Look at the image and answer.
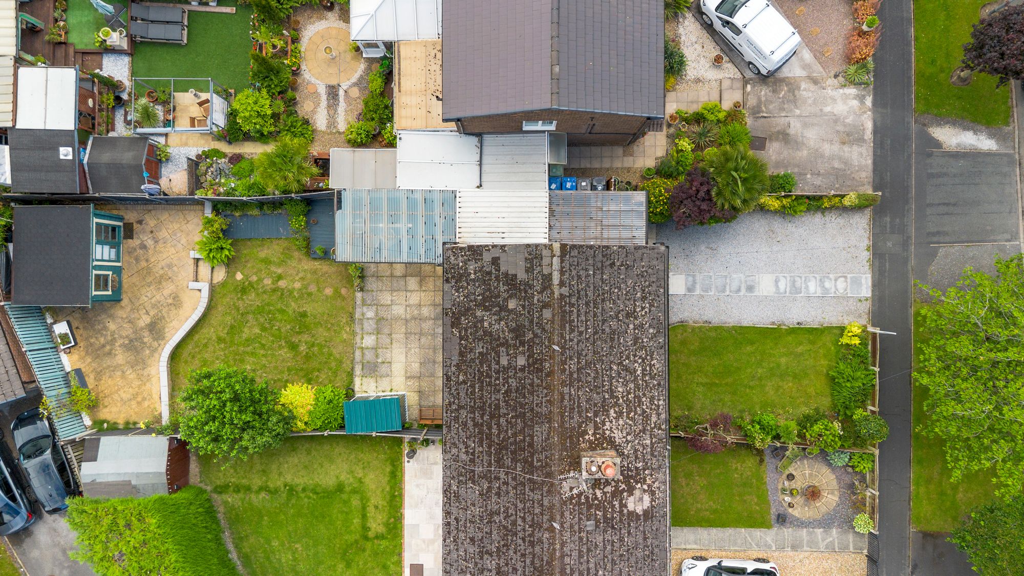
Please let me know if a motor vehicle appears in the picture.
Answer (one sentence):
Yes, a motor vehicle appears in the view.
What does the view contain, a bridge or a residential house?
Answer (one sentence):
It is a residential house that can be seen here.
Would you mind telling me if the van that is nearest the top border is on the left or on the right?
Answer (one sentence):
It is on the right.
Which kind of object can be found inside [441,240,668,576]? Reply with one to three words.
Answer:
house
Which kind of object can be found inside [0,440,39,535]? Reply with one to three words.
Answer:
car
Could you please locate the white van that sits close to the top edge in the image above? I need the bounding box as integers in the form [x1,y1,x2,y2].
[700,0,804,81]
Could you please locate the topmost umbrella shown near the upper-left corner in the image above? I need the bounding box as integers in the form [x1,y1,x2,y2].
[90,0,130,28]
